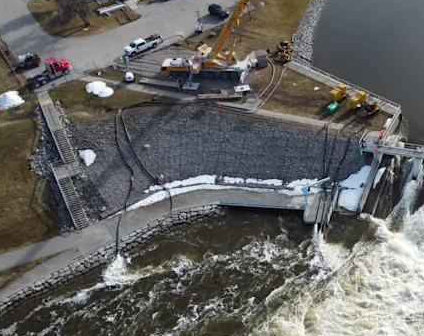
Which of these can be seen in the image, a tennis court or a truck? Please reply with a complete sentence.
The one in the frame is a truck.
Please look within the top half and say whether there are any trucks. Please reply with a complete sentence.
Yes, a truck can be seen within the top half.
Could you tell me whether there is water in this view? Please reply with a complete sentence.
Yes, some water is visible.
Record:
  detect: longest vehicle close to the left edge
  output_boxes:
[19,61,71,97]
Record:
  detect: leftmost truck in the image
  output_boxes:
[7,45,44,68]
